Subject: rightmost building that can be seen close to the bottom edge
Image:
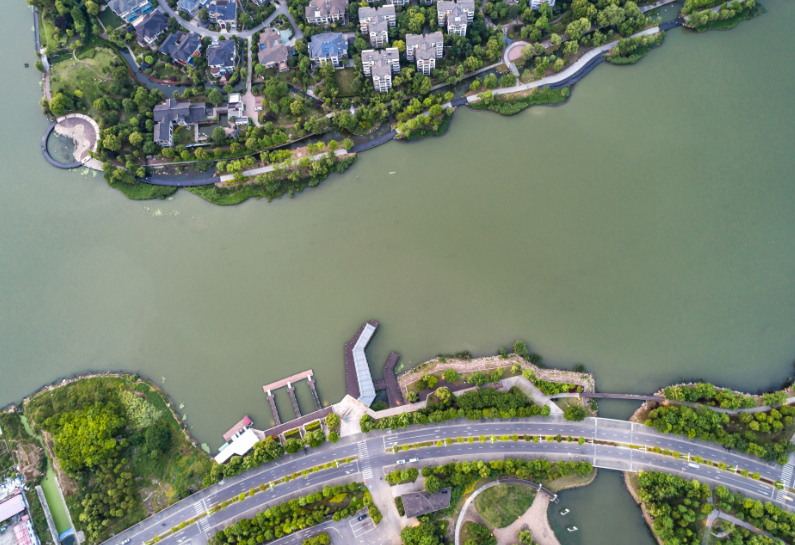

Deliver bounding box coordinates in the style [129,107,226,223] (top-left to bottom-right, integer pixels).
[401,485,451,519]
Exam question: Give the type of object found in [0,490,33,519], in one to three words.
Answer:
shed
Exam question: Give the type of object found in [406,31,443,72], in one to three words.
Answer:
building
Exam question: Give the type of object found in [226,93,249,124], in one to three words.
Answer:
house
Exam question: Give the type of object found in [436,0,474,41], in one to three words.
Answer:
building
